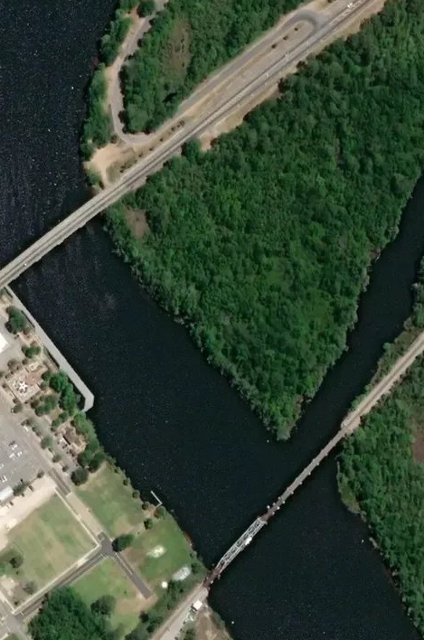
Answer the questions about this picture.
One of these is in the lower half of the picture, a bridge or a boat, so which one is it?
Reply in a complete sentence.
There is a bridge in the lower half of the picture.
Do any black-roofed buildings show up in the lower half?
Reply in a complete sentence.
No, in the lower half there is no black-roofed building.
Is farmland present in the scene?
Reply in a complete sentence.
No, farmland can't be seen anywhere here.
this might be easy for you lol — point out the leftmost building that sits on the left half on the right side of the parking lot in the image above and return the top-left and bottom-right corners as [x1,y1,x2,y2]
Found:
[59,425,88,449]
